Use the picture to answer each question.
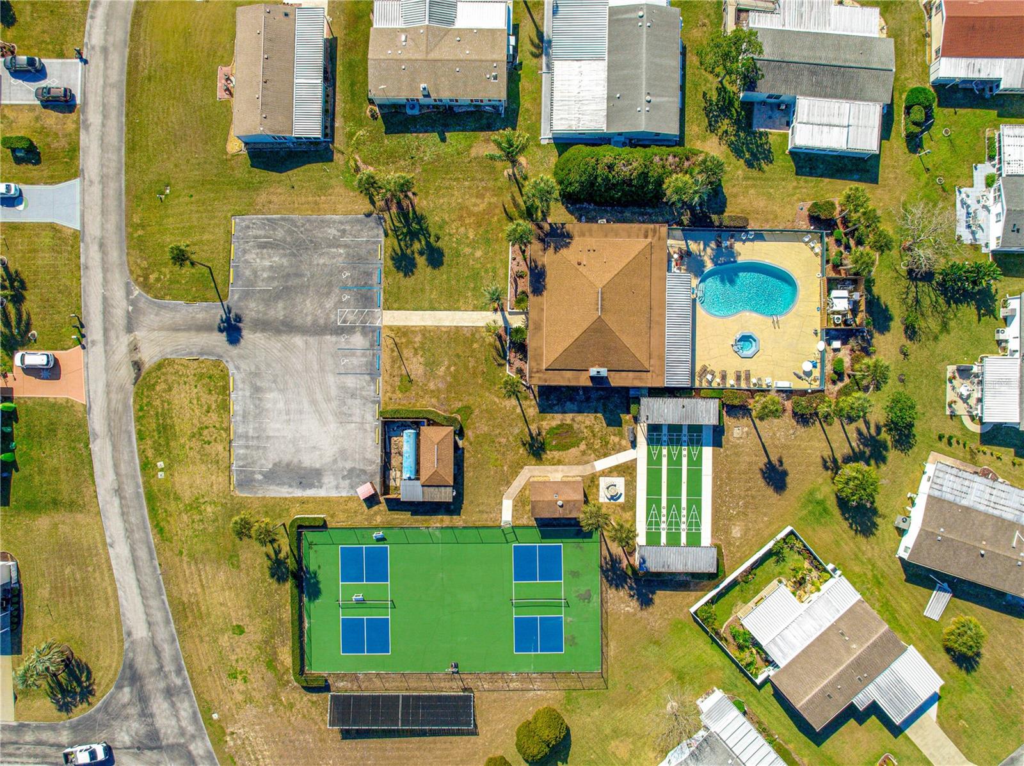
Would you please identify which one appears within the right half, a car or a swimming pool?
swimming pool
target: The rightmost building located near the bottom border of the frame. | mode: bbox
[735,577,944,731]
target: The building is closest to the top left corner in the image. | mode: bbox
[234,2,329,143]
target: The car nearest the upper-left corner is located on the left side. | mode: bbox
[4,54,43,73]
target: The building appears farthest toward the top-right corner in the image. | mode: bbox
[925,0,1024,95]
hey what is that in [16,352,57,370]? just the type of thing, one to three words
car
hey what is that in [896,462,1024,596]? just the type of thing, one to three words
house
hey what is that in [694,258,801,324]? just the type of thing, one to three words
swimming pool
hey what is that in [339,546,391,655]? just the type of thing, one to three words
sports court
